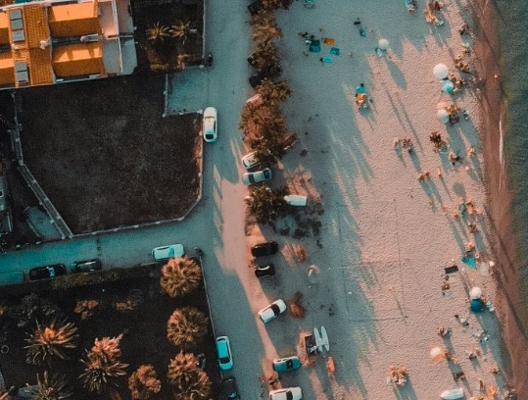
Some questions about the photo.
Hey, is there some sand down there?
Yes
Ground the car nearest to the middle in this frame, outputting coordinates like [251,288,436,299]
[243,168,272,185]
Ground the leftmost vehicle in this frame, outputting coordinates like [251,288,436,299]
[0,270,24,286]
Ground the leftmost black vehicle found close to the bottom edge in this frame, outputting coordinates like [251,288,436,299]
[223,378,240,400]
